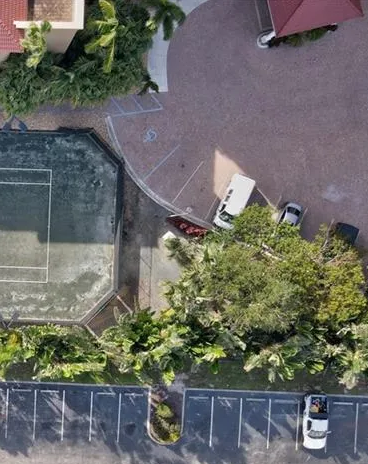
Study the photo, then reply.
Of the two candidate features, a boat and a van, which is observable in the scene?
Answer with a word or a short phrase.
van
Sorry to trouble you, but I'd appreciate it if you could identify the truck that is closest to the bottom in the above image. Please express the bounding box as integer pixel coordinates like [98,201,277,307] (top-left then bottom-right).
[301,393,329,450]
